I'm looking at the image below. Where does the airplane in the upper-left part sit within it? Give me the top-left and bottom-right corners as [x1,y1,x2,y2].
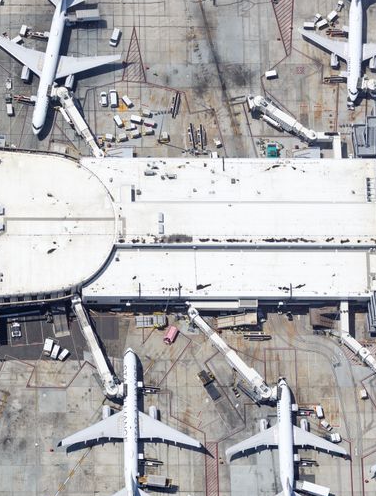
[0,0,118,134]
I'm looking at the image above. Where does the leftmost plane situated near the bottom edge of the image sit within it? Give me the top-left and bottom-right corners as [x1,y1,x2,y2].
[58,349,201,496]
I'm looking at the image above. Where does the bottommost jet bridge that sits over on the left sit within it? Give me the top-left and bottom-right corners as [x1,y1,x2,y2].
[71,296,125,397]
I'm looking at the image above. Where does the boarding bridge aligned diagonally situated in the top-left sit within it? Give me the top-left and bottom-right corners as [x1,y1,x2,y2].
[49,84,105,158]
